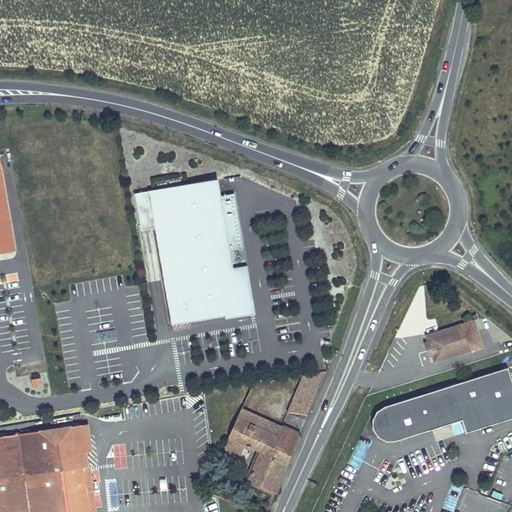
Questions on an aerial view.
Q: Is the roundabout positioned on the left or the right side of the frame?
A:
right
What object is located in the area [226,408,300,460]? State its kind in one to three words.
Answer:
house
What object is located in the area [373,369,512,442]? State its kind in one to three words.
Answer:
building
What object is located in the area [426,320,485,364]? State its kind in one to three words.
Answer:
house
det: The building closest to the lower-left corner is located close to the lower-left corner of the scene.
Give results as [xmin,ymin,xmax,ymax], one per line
[0,425,97,512]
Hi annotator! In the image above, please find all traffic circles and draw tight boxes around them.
[334,114,480,311]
